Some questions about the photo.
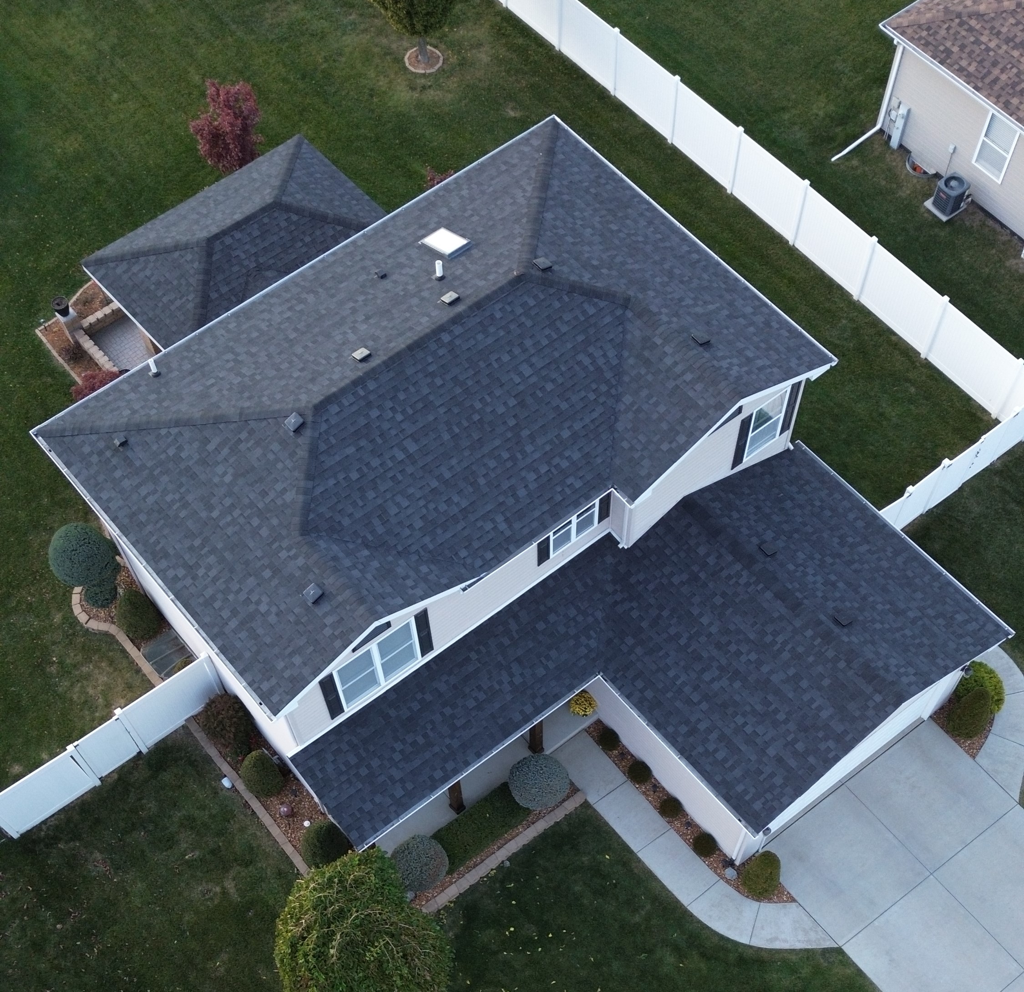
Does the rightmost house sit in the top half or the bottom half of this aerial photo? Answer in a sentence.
It is in the top half that the rightmost house appears.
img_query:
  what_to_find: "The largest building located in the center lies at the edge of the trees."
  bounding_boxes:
[30,115,1014,868]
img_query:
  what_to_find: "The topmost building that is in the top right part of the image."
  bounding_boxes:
[831,0,1024,265]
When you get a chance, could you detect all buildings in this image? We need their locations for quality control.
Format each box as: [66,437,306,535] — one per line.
[831,0,1024,265]
[30,115,1014,868]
